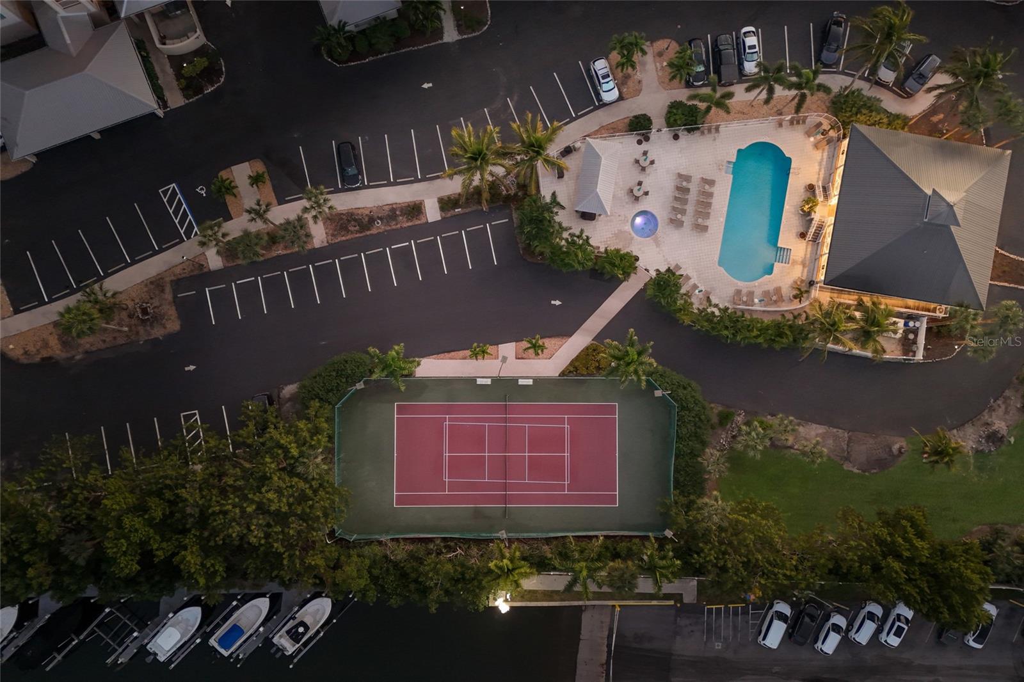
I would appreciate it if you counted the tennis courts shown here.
1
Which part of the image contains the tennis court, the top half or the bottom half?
bottom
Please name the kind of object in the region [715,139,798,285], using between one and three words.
swimming pool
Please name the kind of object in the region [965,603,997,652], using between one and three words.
car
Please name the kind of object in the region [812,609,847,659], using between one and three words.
car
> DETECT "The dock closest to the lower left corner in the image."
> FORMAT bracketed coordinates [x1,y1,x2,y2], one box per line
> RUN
[0,591,64,663]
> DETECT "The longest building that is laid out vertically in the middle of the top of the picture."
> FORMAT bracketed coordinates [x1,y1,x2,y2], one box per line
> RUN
[575,139,622,216]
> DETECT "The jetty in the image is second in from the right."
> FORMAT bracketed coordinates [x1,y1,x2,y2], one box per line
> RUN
[119,591,196,663]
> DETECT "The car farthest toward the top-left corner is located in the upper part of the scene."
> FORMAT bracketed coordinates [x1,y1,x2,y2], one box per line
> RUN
[336,141,361,188]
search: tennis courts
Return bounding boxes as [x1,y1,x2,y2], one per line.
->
[346,382,666,533]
